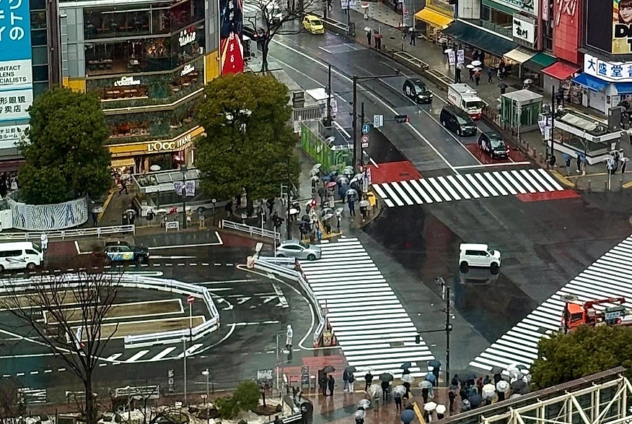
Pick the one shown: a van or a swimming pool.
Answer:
van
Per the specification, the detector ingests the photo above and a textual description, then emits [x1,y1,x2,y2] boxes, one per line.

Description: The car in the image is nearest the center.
[272,237,327,260]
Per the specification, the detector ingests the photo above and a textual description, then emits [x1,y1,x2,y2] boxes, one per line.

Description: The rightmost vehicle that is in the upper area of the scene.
[475,129,514,157]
